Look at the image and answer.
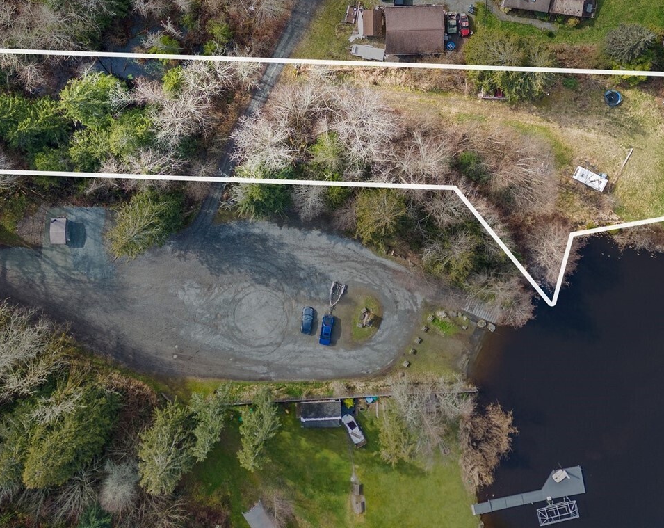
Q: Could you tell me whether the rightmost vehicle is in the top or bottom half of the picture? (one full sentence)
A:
Seen from above, the rightmost vehicle lies in the top half of the view.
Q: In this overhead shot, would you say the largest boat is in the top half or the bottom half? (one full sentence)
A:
The largest boat is in the bottom half of the image.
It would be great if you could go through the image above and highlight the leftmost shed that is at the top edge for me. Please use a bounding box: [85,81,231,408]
[363,10,385,37]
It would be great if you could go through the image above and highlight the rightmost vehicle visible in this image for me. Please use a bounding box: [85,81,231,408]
[569,166,606,192]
